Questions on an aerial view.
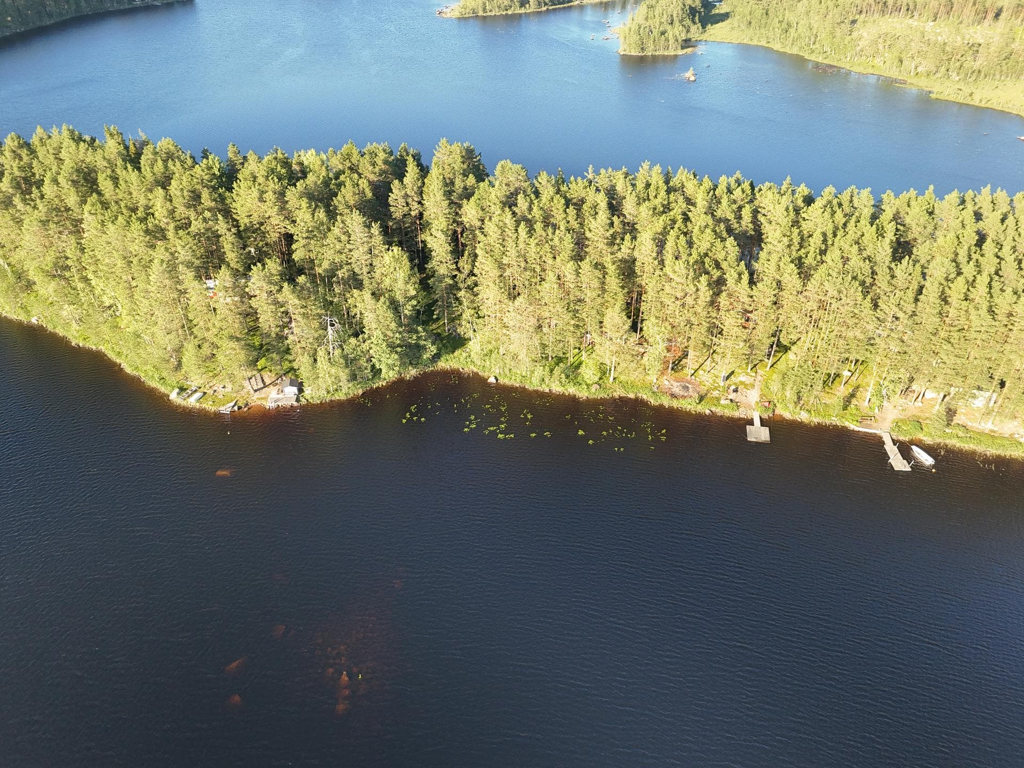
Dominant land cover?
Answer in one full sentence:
For the most part, this view shows water.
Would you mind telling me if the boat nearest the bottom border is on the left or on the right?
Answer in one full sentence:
It is on the right.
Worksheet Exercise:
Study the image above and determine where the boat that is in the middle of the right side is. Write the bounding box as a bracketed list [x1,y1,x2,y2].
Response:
[910,444,938,467]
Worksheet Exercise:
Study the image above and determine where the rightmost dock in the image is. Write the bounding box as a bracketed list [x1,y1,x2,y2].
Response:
[881,432,914,472]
